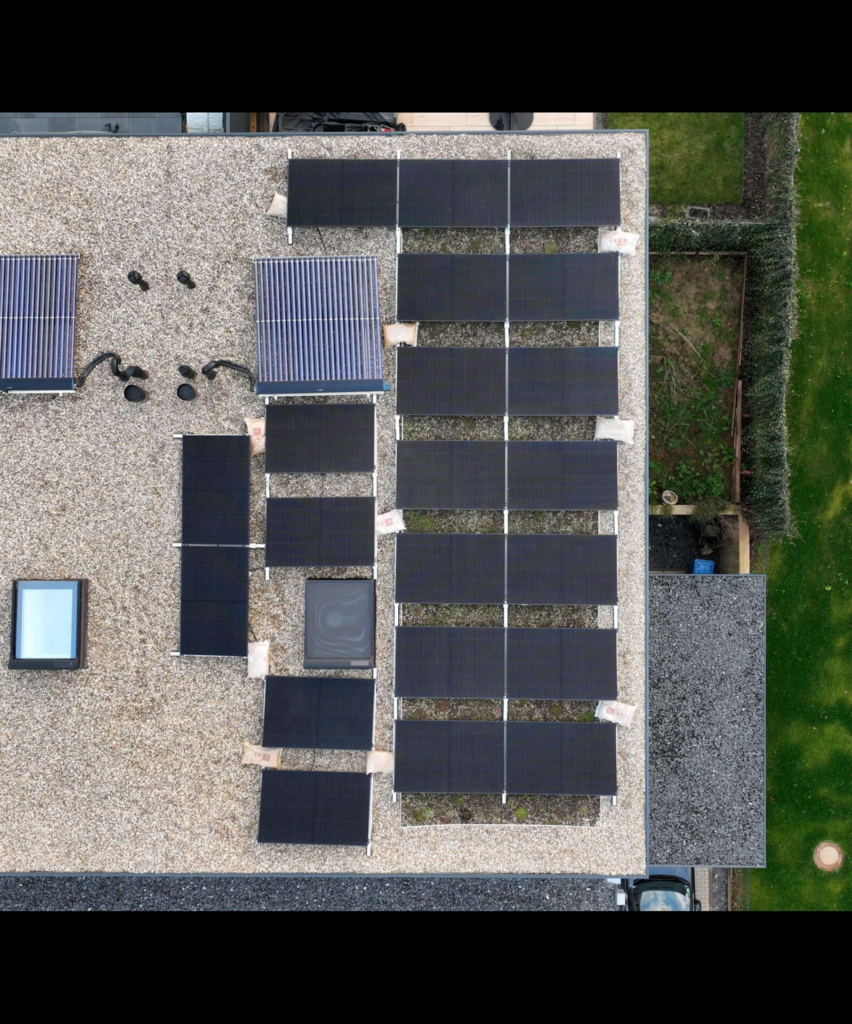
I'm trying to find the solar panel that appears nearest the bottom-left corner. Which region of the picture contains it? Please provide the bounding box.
[258,769,371,845]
